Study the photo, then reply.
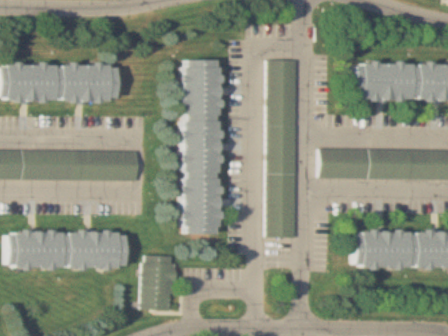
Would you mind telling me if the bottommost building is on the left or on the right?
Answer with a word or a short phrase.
left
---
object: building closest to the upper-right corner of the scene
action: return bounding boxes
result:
[349,62,448,103]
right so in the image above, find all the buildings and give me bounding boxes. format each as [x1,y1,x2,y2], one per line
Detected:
[176,60,225,234]
[262,60,295,238]
[0,230,129,271]
[316,148,448,180]
[349,62,448,103]
[0,62,121,104]
[0,150,138,180]
[132,256,172,311]
[348,230,448,271]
